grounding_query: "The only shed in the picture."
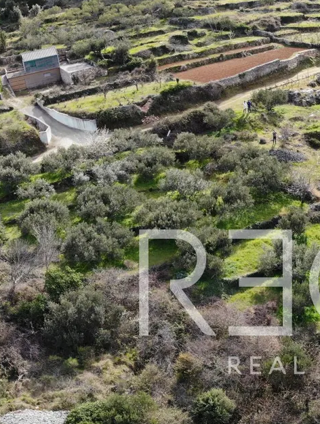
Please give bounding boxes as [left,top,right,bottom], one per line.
[2,56,93,100]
